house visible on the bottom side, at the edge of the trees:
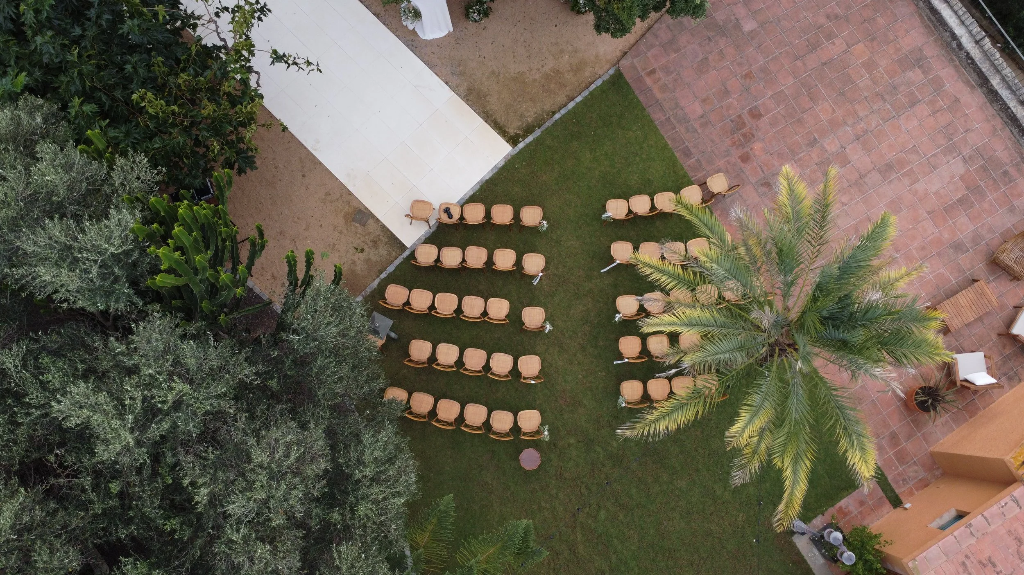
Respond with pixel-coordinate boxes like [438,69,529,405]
[848,387,1024,575]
